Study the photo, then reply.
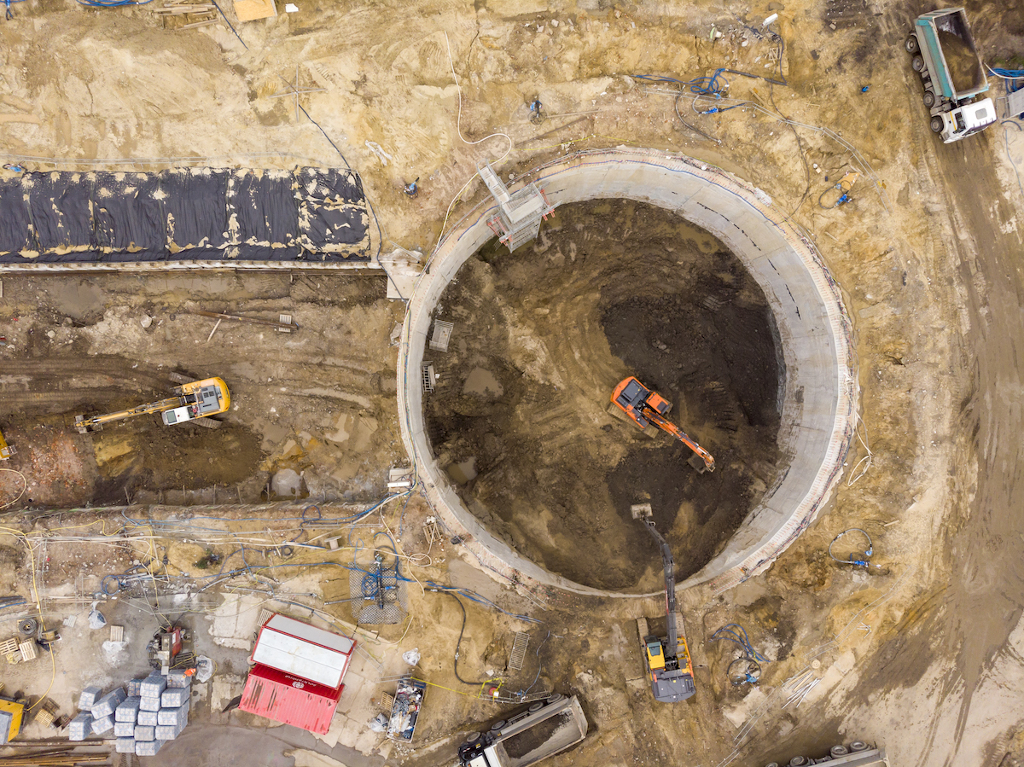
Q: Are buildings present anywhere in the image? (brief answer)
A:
Yes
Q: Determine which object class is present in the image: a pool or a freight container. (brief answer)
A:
freight container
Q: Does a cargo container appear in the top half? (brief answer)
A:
No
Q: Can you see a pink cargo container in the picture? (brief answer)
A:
Yes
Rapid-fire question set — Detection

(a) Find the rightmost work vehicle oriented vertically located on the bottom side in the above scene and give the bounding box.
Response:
[630,499,699,709]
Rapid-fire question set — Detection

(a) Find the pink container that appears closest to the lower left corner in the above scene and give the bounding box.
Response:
[239,663,346,736]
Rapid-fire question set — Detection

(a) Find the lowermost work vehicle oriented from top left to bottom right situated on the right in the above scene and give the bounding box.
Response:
[609,378,724,478]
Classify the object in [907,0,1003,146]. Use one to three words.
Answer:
truck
